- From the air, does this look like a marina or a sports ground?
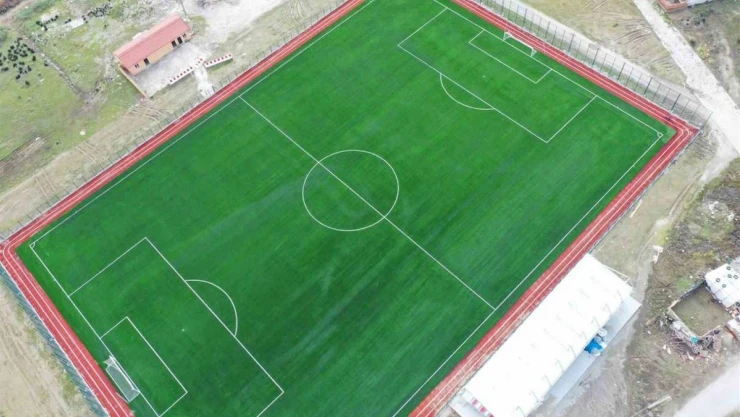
sports ground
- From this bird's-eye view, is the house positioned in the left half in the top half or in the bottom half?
top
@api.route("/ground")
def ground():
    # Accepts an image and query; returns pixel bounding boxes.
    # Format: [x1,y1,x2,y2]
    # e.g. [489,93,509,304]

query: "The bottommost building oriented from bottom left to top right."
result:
[113,15,192,74]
